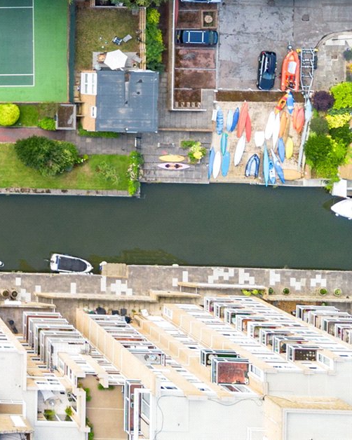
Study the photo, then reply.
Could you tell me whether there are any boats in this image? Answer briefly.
Yes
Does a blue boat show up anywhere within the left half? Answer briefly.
No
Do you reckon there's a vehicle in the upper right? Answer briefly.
Yes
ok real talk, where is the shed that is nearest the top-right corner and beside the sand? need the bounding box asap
[214,91,316,103]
